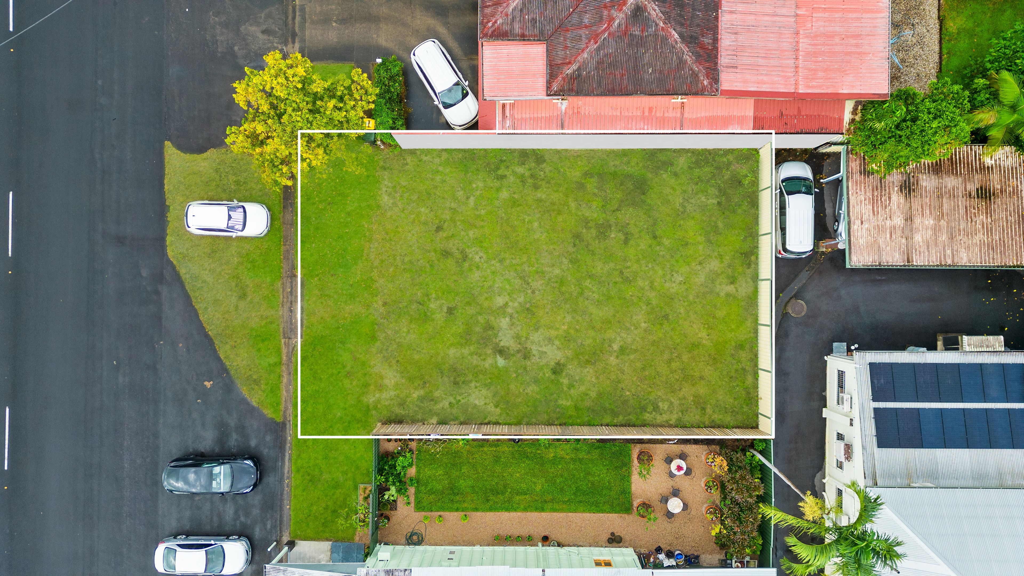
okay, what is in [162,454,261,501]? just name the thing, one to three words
car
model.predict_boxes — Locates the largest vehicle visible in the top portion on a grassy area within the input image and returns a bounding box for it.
[183,195,271,241]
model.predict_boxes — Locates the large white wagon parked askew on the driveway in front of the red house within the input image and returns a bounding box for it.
[408,38,479,131]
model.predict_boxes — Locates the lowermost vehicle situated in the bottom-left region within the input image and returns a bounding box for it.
[154,534,253,576]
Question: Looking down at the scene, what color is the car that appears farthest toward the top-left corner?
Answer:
white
